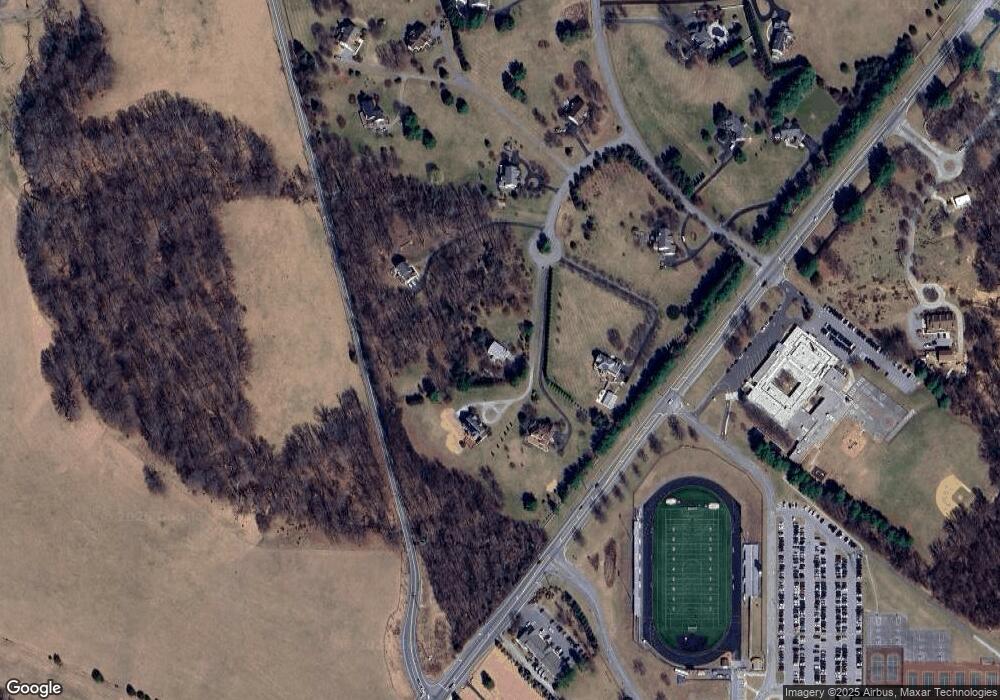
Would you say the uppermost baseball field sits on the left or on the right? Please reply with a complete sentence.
It is on the right.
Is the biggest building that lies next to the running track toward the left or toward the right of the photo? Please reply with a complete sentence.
The biggest building that lies next to the running track sits on the right side.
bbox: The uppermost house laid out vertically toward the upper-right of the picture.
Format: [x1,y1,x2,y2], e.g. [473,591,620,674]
[770,19,792,58]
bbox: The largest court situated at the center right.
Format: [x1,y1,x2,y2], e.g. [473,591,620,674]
[845,376,911,441]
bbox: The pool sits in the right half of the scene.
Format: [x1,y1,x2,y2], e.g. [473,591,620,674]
[707,21,729,41]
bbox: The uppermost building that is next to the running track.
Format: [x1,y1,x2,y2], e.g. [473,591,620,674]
[745,323,856,465]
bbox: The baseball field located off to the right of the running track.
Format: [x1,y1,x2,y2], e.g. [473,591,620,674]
[936,472,977,519]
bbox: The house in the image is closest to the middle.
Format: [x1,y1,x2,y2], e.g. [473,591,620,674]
[487,338,514,363]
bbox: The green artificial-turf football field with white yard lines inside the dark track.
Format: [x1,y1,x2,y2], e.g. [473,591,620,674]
[653,486,730,653]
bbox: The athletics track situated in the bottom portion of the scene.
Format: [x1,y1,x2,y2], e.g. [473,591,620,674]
[643,477,741,667]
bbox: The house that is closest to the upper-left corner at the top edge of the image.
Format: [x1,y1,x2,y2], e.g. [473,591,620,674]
[340,21,362,50]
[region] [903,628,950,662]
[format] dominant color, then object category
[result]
gray basketball court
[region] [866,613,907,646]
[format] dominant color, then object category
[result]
gray basketball court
